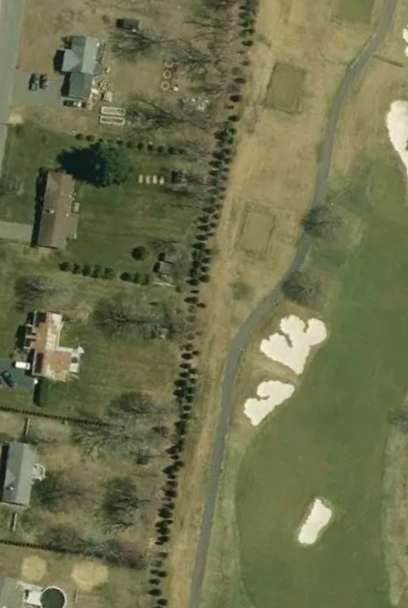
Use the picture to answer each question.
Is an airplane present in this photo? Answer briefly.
No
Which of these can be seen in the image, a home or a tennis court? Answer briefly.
home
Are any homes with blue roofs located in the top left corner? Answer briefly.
No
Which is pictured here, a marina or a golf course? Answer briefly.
golf course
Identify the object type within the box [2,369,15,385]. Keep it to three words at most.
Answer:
vehicle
